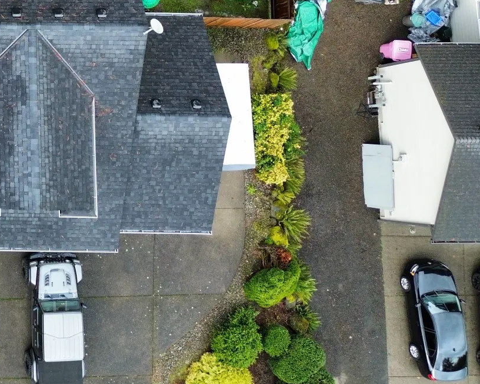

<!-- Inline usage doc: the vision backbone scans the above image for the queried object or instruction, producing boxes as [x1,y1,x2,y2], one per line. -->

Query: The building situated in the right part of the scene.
[372,0,480,246]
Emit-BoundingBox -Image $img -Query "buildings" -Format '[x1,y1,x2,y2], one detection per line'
[372,0,480,246]
[0,0,231,253]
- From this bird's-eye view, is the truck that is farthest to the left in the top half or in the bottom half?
bottom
